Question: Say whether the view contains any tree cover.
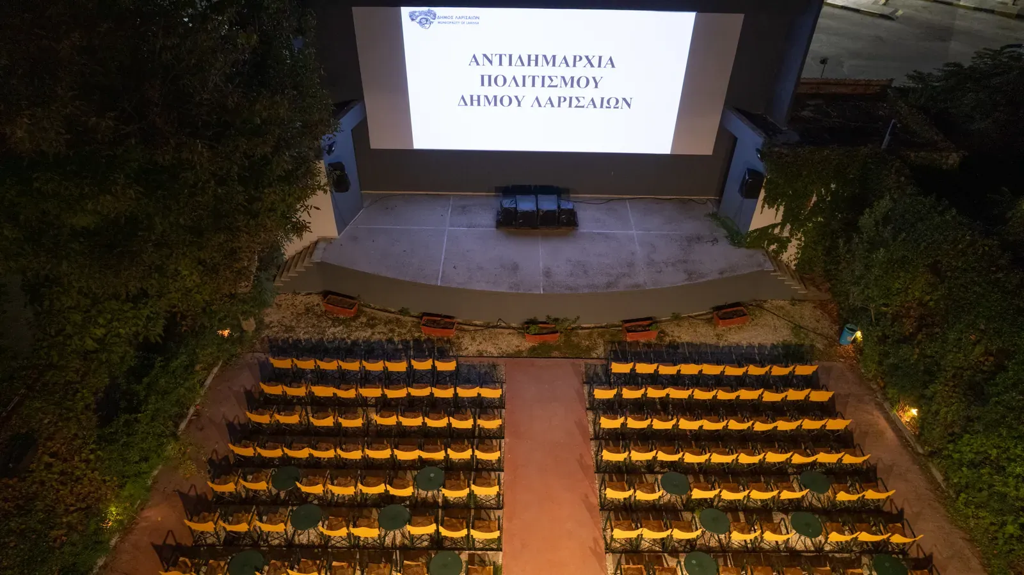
Yes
